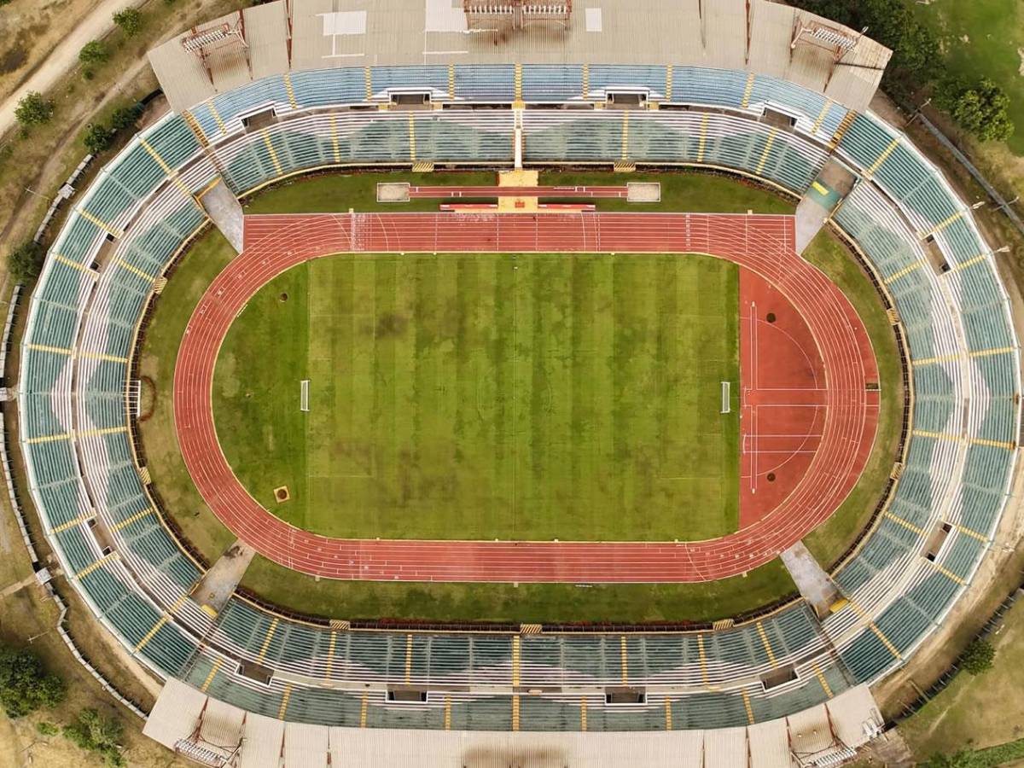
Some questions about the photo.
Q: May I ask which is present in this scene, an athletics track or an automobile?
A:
athletics track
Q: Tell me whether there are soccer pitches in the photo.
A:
Yes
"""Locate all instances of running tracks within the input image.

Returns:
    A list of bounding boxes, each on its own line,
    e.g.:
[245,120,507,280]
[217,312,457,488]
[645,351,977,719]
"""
[172,213,880,581]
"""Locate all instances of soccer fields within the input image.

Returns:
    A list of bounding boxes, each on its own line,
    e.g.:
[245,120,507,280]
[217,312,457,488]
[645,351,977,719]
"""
[212,253,739,541]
